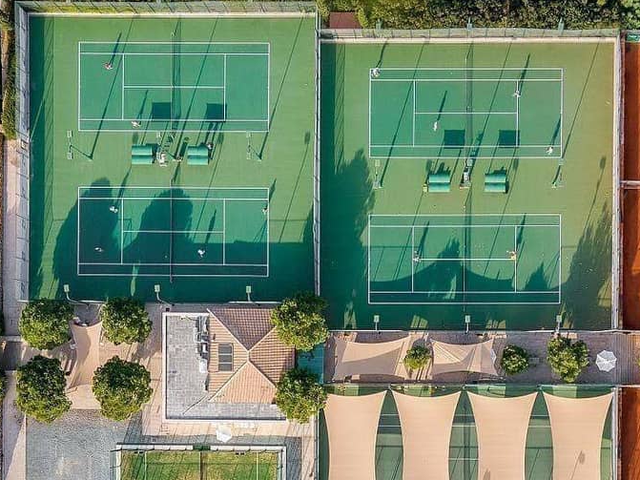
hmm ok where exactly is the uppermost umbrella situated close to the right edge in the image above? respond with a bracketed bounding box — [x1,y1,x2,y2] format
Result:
[595,349,616,371]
